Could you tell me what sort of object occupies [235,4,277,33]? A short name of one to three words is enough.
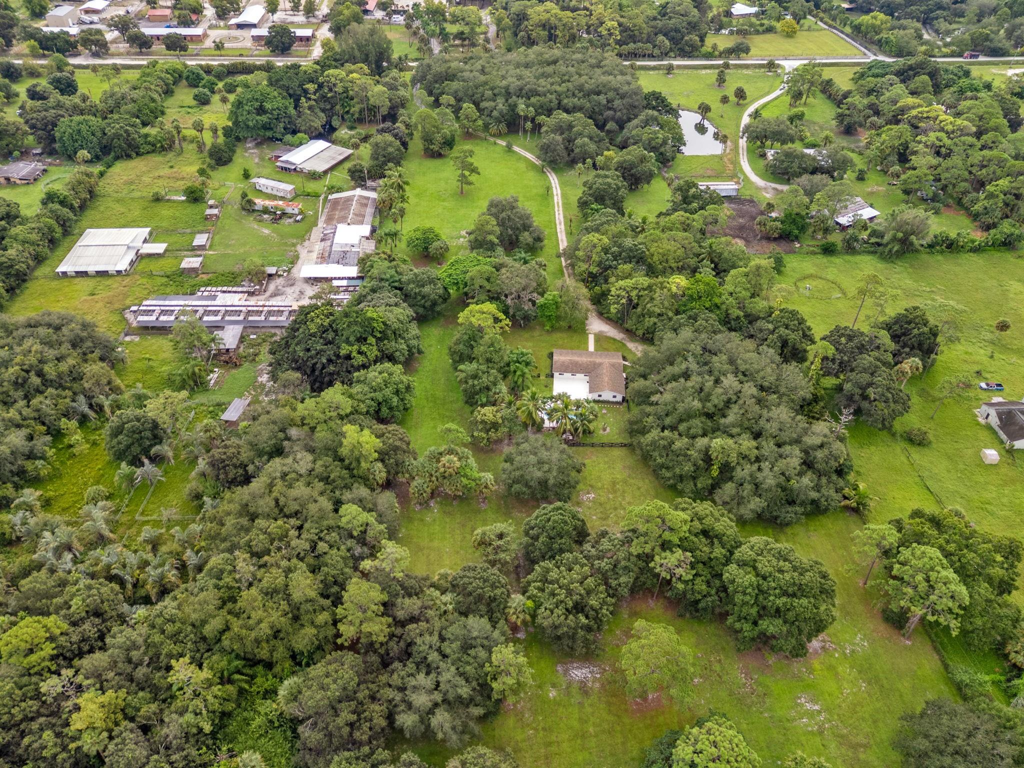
barn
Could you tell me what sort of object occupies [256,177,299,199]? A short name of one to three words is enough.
house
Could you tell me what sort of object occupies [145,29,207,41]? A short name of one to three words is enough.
building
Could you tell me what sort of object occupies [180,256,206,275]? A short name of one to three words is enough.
shed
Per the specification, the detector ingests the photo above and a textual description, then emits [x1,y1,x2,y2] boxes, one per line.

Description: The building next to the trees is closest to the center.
[554,349,626,402]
